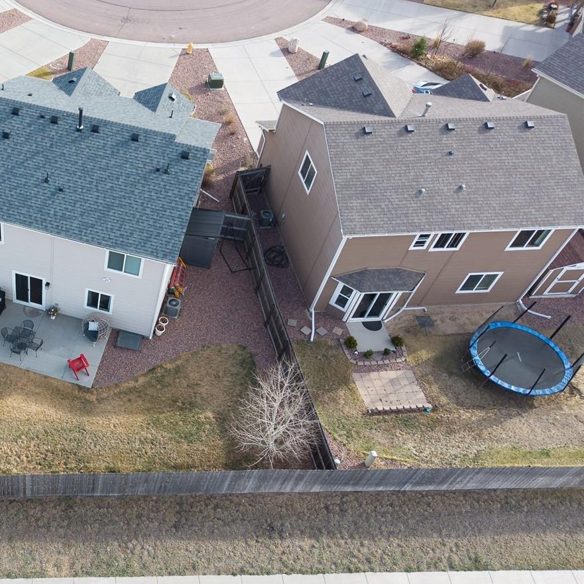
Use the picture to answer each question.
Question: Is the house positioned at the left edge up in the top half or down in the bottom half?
top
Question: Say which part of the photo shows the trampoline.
right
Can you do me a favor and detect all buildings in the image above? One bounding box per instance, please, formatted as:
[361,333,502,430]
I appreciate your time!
[245,53,584,333]
[0,65,226,339]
